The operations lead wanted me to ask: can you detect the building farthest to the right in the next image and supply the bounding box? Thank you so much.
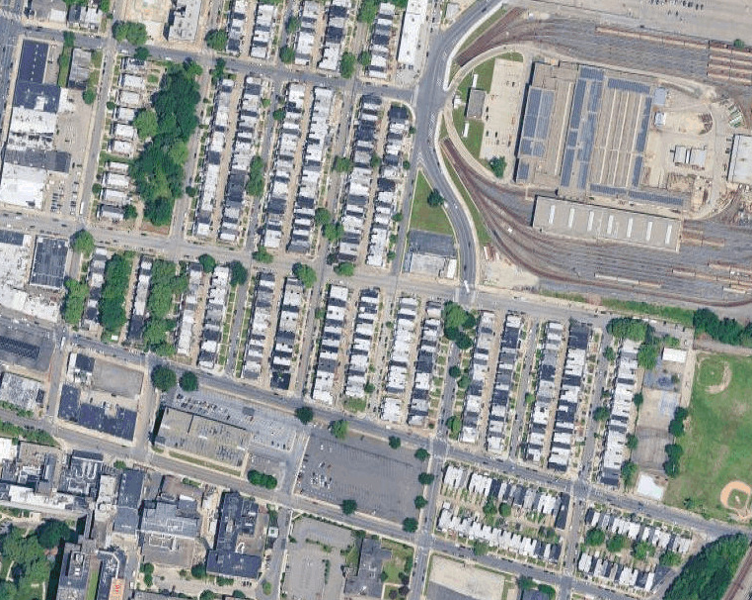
[727,136,752,188]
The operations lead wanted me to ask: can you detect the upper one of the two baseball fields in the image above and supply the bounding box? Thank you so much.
[698,357,730,390]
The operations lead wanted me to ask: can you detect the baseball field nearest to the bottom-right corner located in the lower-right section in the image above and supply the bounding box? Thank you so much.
[721,480,752,519]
